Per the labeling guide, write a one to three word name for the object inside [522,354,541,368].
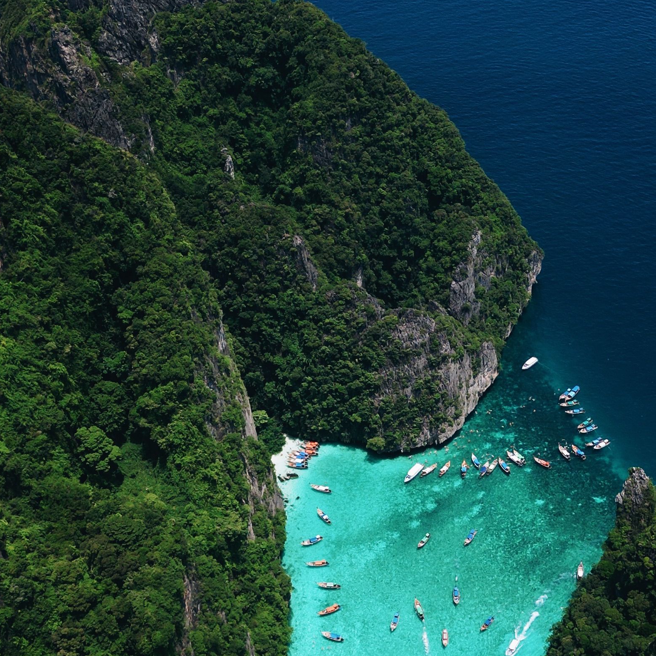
boat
